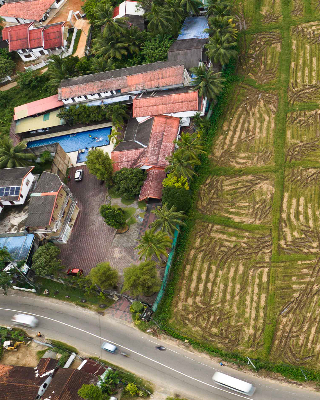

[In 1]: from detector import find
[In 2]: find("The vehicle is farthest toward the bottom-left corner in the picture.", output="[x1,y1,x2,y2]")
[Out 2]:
[3,339,35,353]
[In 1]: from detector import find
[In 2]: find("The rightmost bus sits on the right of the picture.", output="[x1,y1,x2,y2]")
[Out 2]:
[208,373,257,399]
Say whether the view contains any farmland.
Yes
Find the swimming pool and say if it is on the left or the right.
left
